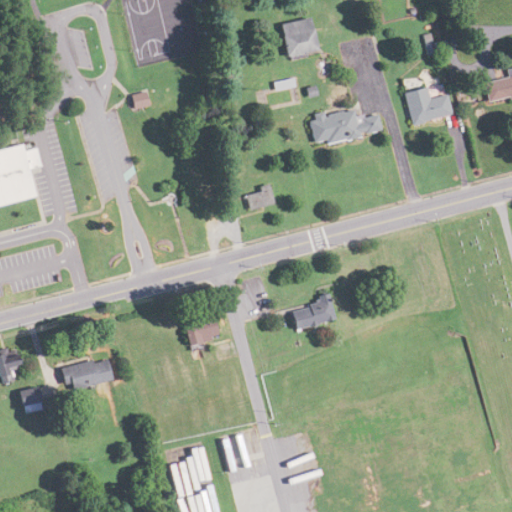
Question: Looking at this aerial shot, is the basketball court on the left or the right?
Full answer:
The basketball court is on the left side of the image.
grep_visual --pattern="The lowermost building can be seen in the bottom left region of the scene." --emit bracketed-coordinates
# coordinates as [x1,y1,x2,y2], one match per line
[20,388,43,414]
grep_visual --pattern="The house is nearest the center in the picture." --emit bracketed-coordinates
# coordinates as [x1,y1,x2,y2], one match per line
[248,184,275,210]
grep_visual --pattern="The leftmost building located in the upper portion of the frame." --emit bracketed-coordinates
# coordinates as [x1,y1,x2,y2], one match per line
[0,143,43,208]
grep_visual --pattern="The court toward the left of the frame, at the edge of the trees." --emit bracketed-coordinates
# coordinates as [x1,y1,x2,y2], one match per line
[125,0,194,66]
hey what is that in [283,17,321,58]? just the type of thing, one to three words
house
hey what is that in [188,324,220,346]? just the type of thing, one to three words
house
